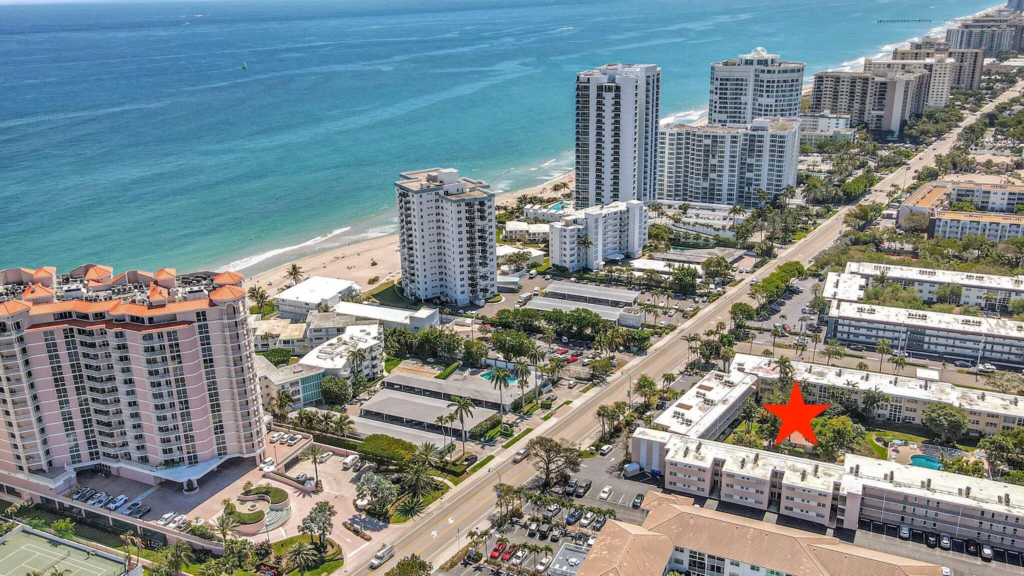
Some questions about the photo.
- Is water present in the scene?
Yes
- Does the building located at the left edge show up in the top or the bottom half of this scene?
bottom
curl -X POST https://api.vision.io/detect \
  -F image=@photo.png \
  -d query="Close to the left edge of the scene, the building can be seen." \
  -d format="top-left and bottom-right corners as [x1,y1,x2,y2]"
[0,263,275,499]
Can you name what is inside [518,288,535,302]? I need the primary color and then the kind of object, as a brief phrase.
white vehicle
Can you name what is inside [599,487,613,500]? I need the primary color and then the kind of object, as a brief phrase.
white vehicle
